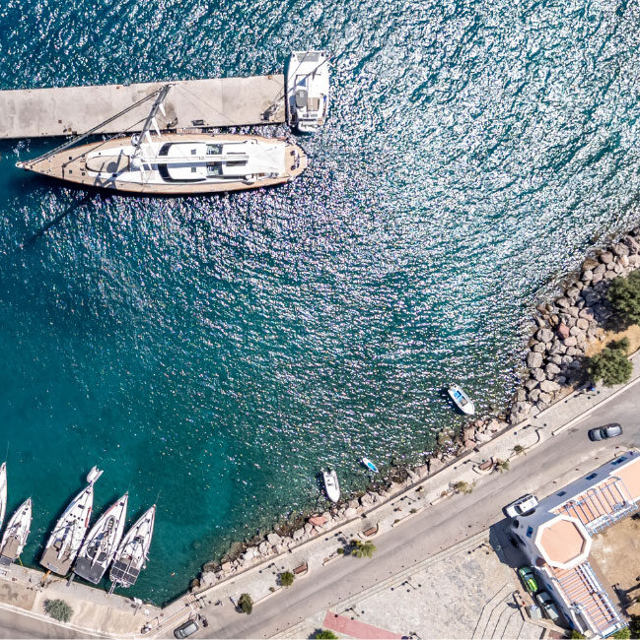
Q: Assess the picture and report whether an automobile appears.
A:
Yes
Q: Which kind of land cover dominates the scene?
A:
water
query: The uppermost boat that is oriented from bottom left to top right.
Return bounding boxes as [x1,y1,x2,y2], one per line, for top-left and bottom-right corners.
[87,464,103,486]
